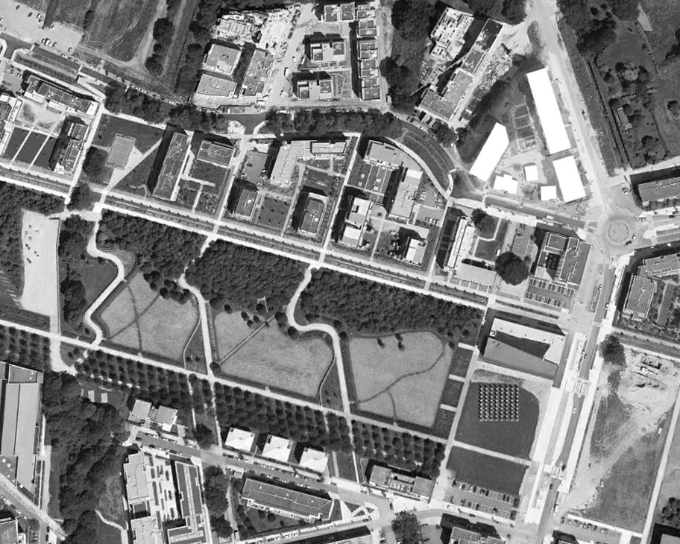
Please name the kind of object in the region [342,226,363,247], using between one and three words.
building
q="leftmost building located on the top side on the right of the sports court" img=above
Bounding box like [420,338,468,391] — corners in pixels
[152,133,190,199]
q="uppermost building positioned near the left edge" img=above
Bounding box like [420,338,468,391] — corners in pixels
[23,75,99,116]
